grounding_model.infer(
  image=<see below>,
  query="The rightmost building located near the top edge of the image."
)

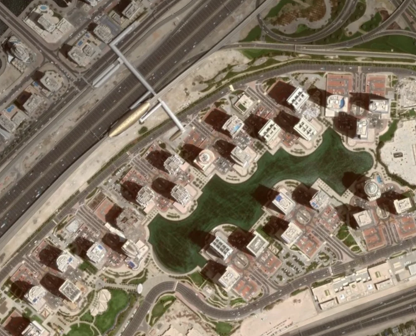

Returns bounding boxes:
[119,0,148,23]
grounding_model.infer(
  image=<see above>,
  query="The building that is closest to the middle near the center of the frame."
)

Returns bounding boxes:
[195,148,221,175]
